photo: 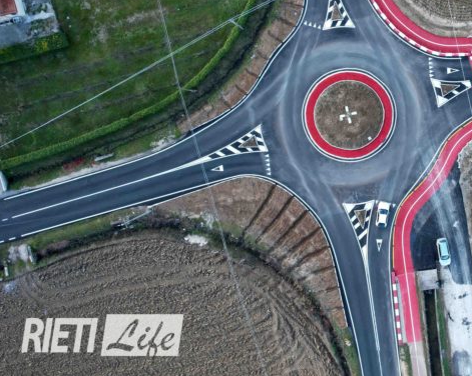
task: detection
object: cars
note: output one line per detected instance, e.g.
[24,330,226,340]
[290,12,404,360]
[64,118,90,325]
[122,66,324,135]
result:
[376,201,389,227]
[437,239,451,265]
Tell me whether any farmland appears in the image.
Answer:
Yes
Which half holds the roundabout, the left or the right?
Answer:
right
